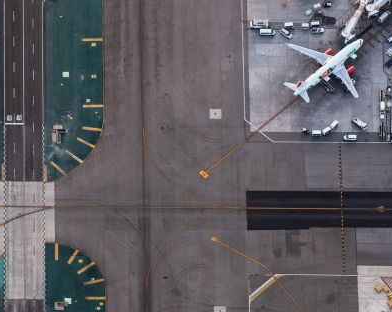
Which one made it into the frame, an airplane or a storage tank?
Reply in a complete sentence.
It is an airplane that can be seen here.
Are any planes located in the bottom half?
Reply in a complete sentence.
No, looking in the bottom half, there is no plane.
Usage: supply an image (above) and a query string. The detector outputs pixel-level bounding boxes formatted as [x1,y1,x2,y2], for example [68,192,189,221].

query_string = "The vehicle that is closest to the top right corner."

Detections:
[376,12,392,26]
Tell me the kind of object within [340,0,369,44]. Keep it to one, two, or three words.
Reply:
jet bridge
